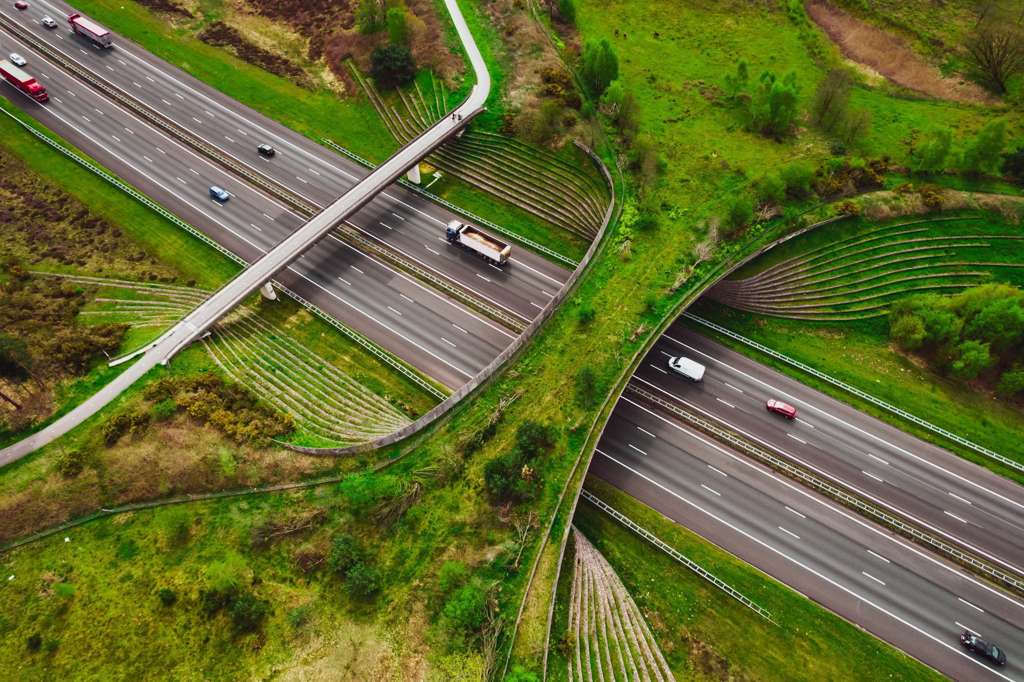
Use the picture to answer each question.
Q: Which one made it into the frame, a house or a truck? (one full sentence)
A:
It is a truck that can be seen here.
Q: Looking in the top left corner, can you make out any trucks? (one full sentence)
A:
Yes, you'll find a truck in the top left corner.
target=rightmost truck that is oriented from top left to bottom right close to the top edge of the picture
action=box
[68,15,115,48]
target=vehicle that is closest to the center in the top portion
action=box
[445,220,510,264]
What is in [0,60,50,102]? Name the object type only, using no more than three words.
truck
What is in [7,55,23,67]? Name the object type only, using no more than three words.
vehicle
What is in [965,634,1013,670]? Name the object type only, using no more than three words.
car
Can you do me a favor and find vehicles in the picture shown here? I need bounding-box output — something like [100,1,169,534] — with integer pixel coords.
[672,360,710,384]
[257,145,275,157]
[15,1,28,10]
[767,402,797,422]
[7,55,23,67]
[445,220,510,264]
[0,60,50,102]
[41,18,56,27]
[209,187,230,203]
[68,15,115,48]
[965,634,1013,670]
